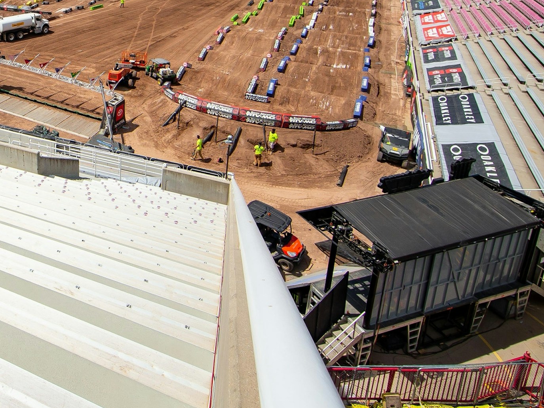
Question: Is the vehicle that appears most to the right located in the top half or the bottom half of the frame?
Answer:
top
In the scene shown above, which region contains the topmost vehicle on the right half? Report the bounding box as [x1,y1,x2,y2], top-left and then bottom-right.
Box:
[375,104,416,158]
